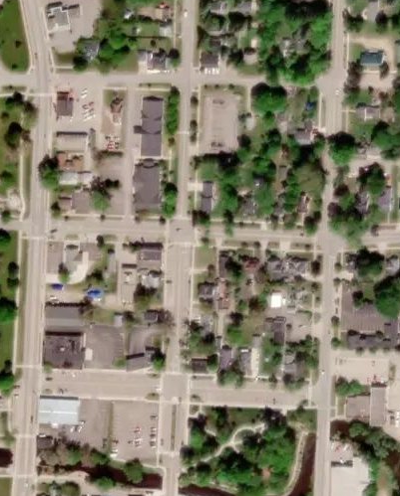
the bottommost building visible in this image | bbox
[331,457,370,496]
